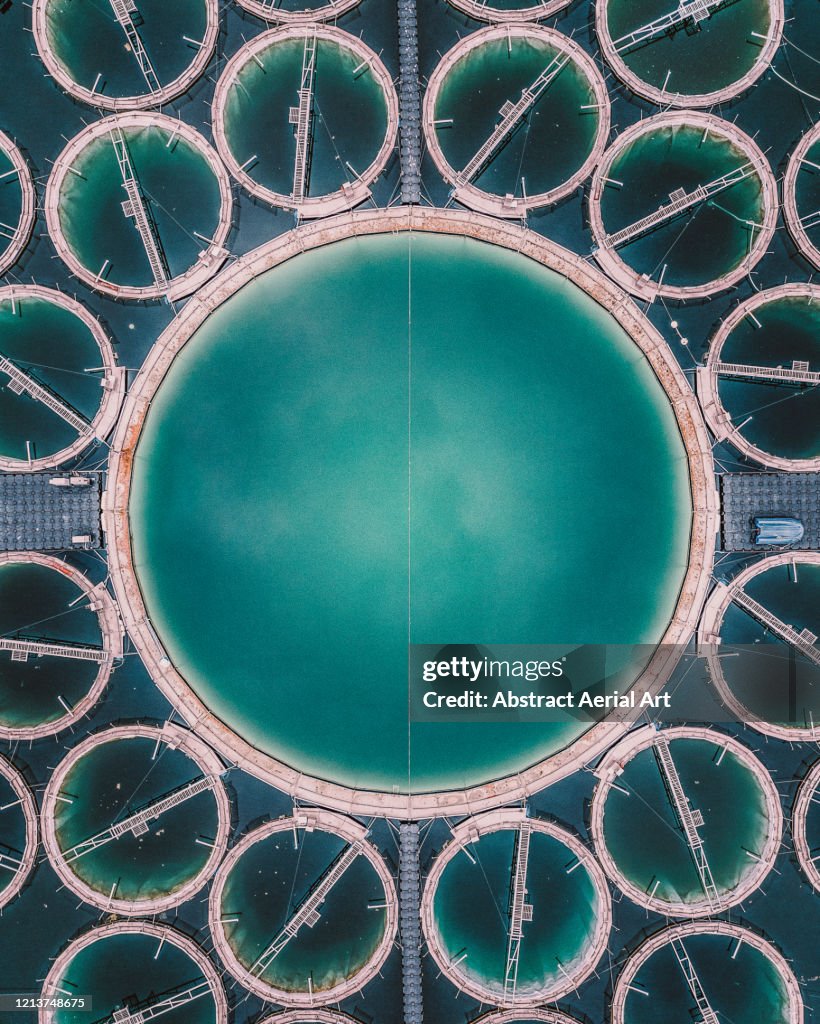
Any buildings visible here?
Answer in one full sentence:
No, this view has no building in it.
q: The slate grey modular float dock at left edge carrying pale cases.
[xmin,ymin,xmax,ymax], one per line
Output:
[0,455,108,564]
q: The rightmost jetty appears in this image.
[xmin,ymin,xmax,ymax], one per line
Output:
[712,458,820,567]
